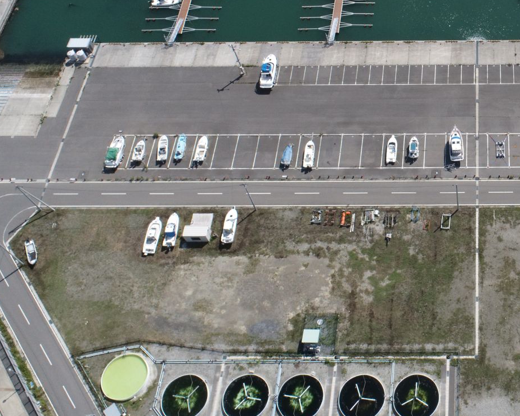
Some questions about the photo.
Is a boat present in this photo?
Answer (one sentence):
Yes, you can see a boat in this photo.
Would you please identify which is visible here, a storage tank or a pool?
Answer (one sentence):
The image shows a storage tank.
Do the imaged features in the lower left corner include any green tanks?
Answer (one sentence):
Yes, you'll find a green tank in the lower left corner.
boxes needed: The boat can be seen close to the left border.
[25,239,37,264]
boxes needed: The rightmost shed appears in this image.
[302,329,321,352]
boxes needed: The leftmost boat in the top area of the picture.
[106,128,125,169]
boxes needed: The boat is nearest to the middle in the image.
[222,206,237,245]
